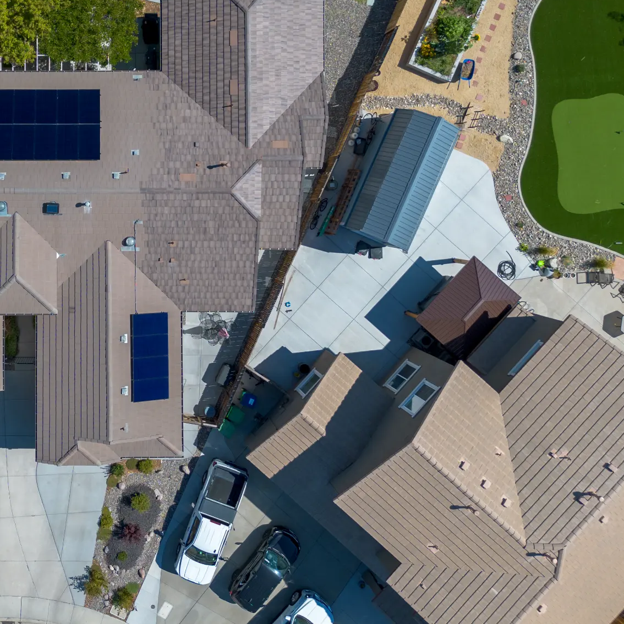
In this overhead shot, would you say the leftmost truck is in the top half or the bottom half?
bottom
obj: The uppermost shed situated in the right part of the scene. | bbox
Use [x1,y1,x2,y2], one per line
[336,105,462,253]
